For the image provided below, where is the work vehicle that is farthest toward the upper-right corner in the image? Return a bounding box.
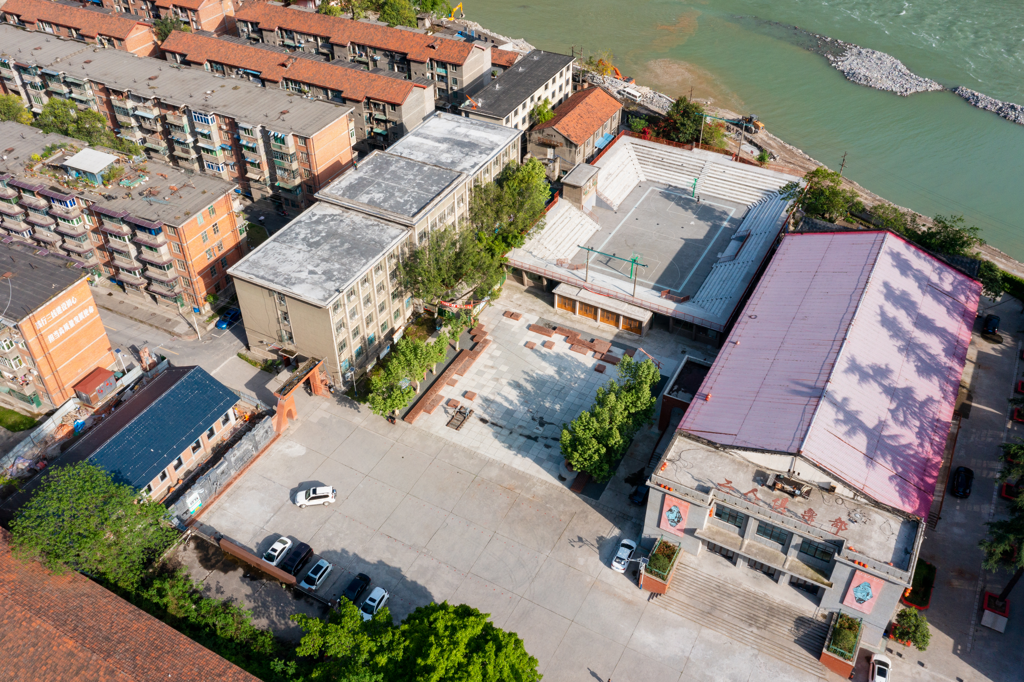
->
[734,115,769,136]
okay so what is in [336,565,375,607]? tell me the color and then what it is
black car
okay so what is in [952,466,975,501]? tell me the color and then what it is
black car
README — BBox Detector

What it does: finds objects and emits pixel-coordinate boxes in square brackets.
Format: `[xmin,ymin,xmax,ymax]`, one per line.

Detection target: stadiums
[503,131,810,346]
